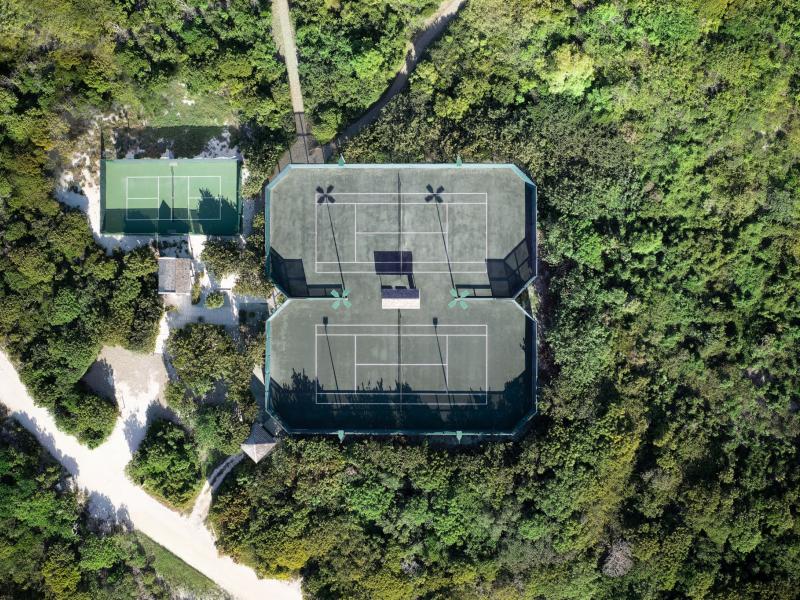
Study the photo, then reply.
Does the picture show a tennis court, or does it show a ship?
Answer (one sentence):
Visible in the photo is a tennis court.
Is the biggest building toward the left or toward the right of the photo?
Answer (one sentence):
You can find the biggest building on the left side of the picture.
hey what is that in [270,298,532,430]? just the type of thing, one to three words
tennis court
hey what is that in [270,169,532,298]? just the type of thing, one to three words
tennis court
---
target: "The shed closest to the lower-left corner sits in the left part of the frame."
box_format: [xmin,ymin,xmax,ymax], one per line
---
[241,424,278,462]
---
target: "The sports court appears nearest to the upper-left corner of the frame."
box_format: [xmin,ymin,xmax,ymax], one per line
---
[107,162,237,237]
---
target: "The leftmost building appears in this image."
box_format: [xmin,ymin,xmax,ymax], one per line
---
[159,257,196,306]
